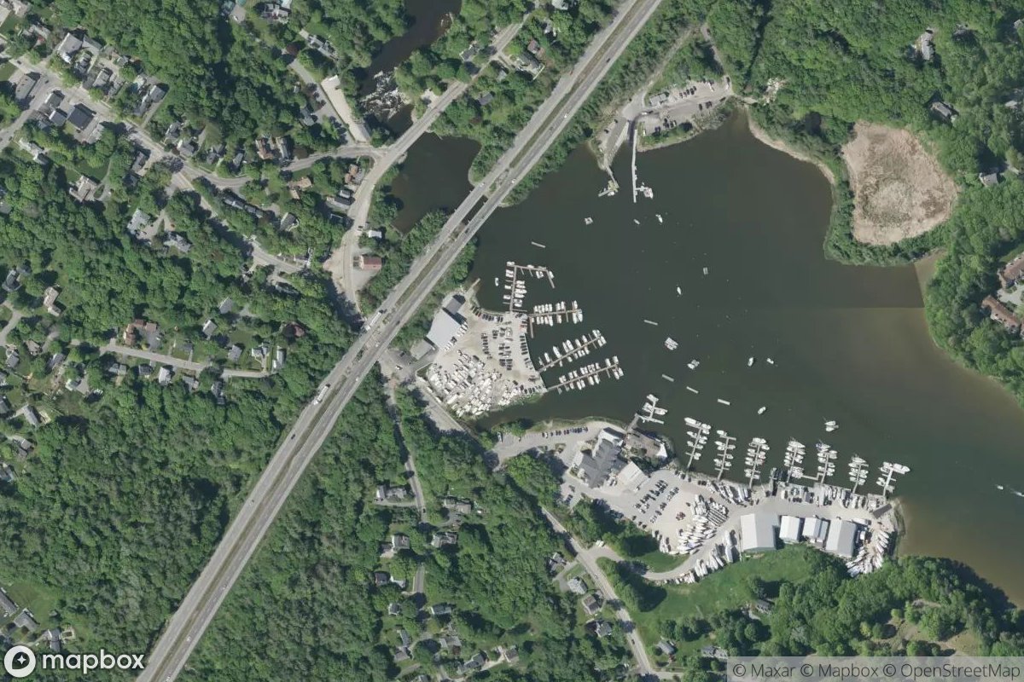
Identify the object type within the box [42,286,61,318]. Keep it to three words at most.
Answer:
house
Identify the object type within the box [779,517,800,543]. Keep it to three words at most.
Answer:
shed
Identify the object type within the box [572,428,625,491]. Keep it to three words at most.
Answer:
building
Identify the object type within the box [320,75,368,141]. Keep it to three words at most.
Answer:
building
